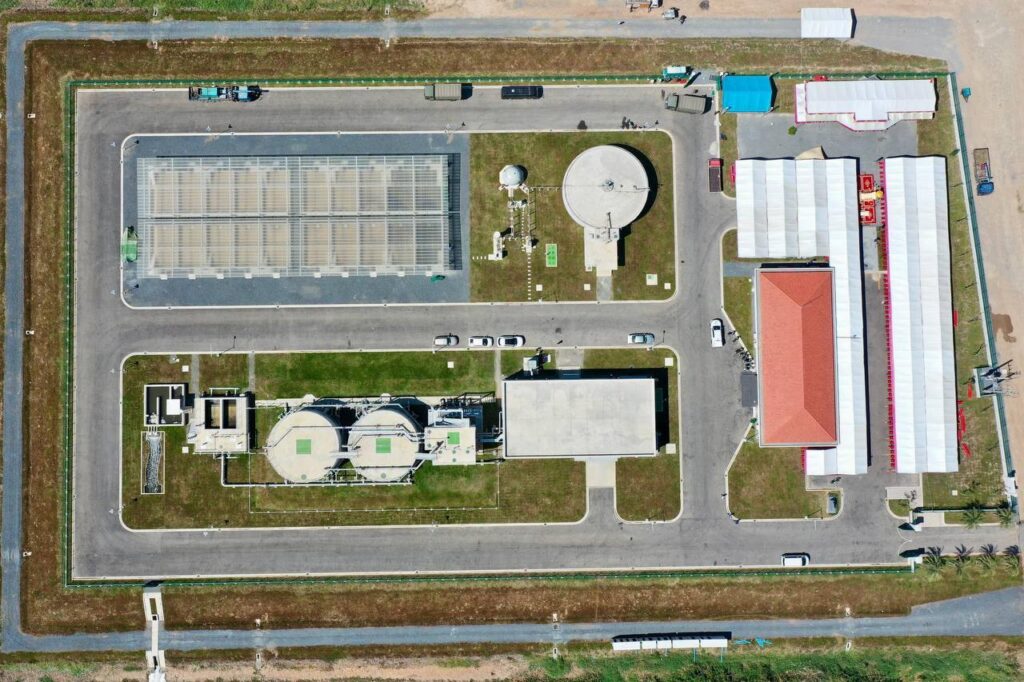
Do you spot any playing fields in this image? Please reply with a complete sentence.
No, no playing field can be seen from above.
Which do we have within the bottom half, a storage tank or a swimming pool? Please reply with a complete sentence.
The feature located within the bottom half is a storage tank.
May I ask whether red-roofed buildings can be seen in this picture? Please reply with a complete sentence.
Yes, the image includes a red-roofed building.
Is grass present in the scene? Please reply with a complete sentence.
Yes, there is grass in the image.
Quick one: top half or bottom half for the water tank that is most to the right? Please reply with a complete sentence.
Seen from above, the water tank that is most to the right lies in the top half of the view.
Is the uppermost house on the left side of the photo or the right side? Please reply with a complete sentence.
The uppermost house sits on the left side.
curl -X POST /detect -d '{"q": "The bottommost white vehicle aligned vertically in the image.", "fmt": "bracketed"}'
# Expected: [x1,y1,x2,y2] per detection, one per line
[709,319,722,347]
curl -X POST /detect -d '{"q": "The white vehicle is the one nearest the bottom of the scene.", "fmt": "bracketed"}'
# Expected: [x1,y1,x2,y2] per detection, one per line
[779,554,808,567]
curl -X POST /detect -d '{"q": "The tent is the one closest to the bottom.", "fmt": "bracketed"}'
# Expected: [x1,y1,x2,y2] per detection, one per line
[799,447,837,476]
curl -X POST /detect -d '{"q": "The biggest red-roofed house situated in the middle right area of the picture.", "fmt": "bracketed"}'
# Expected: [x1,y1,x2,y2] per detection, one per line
[737,266,840,448]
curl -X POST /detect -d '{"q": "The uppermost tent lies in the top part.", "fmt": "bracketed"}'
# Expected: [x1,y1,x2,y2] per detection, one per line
[795,8,852,45]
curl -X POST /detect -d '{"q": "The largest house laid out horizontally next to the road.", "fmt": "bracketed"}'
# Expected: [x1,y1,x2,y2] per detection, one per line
[136,154,449,279]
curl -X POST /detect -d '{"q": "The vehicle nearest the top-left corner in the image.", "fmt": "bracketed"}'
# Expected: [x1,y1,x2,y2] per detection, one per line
[187,84,229,101]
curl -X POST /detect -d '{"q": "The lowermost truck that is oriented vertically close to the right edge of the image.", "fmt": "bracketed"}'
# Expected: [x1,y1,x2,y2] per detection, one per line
[972,149,993,193]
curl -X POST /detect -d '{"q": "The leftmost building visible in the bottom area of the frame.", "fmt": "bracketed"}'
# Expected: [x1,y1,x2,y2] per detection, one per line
[425,392,503,465]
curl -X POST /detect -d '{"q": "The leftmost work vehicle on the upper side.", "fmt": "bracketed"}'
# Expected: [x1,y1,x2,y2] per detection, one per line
[122,227,139,260]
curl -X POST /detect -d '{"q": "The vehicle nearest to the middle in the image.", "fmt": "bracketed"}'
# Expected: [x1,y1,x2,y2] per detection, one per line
[498,336,524,348]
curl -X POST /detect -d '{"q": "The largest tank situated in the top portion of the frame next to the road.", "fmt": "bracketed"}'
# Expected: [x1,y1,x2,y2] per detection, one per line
[562,144,651,277]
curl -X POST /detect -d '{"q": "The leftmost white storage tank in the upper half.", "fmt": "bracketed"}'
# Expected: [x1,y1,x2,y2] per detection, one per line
[499,165,531,199]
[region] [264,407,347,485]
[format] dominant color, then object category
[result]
white storage tank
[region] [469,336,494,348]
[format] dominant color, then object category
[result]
white vehicle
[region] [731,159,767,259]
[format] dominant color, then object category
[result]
white tent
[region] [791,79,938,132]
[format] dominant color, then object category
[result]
white tent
